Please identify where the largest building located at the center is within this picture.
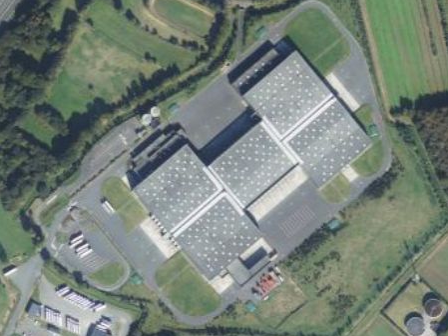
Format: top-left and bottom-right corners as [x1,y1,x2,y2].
[133,51,372,281]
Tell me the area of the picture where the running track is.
top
